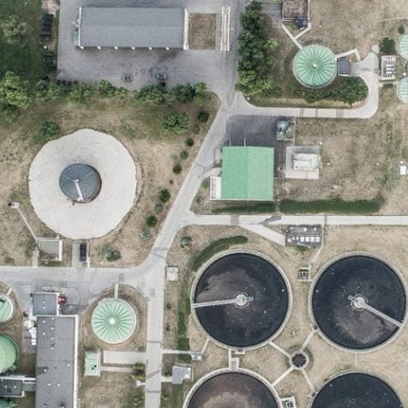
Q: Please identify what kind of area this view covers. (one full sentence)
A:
This image shows an industrial area.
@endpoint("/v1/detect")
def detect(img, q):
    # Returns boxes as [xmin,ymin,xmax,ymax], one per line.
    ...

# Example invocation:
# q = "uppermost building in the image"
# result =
[282,0,309,20]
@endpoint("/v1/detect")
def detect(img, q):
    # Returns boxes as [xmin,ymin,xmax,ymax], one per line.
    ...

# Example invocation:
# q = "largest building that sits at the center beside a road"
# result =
[210,146,273,201]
